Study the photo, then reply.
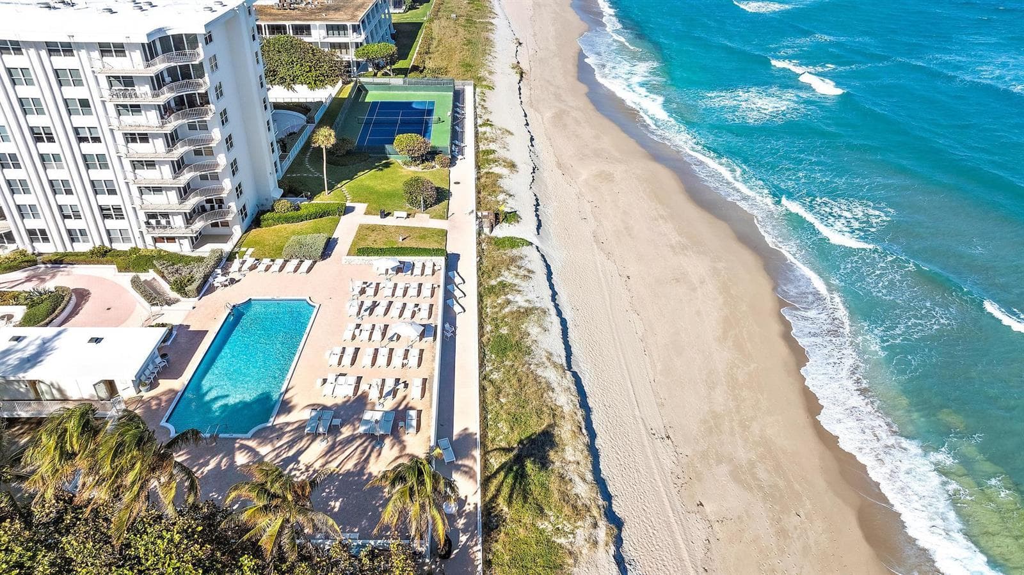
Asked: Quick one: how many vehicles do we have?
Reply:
zero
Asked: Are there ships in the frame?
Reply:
No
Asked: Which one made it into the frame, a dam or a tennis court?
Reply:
tennis court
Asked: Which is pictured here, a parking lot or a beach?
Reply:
beach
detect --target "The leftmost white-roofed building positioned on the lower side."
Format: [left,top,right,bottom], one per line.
[0,327,169,403]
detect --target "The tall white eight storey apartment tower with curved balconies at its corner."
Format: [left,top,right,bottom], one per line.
[0,0,286,247]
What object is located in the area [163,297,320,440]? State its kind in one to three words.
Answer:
swimming pool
